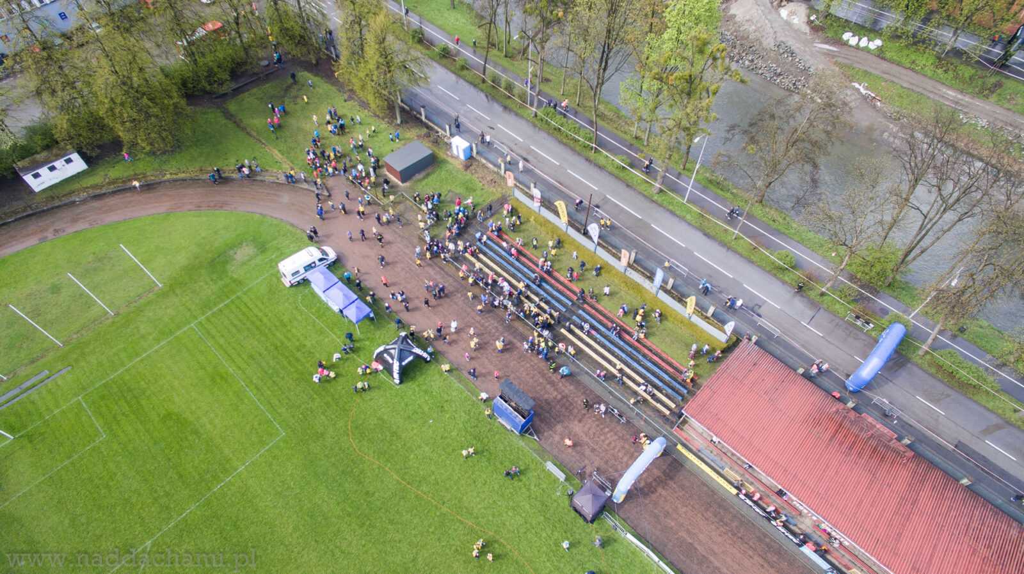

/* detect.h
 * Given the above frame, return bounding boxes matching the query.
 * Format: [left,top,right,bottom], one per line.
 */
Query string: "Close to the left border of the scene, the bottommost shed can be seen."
[17,145,86,191]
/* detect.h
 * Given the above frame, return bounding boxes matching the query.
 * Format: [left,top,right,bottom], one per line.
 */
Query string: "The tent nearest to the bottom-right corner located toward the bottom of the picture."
[569,480,608,525]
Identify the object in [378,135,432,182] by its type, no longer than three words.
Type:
shed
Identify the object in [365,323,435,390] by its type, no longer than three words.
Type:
tent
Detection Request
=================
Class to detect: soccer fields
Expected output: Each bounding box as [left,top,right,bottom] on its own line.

[0,212,676,574]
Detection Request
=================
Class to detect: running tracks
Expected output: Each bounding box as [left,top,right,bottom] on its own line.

[0,174,827,574]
